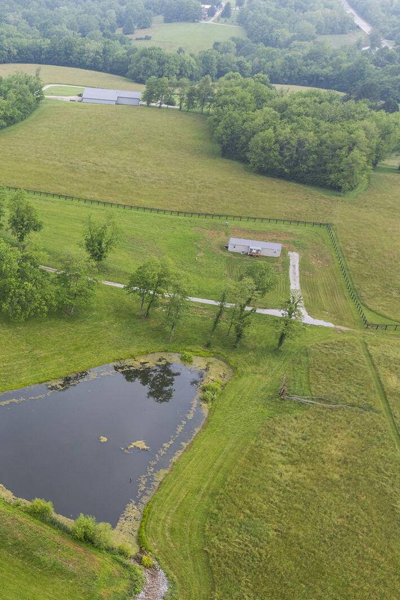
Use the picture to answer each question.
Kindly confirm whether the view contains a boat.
No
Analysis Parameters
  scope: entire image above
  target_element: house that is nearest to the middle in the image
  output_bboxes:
[229,235,282,257]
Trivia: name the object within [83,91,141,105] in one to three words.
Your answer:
barn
